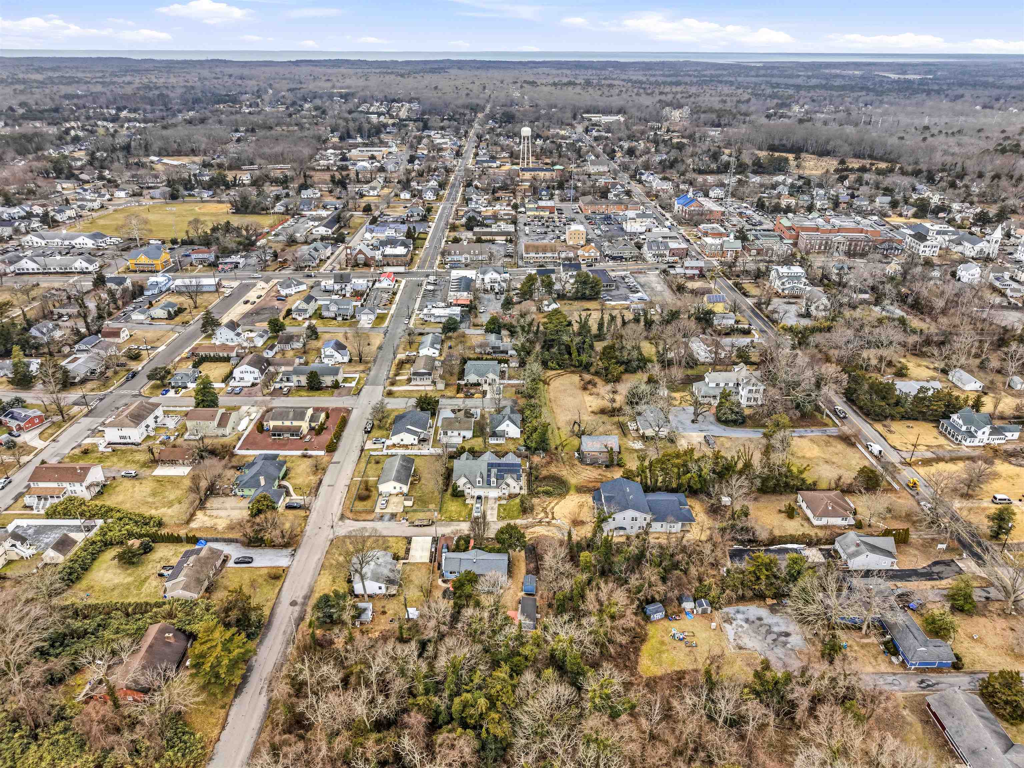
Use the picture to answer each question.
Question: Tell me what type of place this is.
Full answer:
This image shows a residential area.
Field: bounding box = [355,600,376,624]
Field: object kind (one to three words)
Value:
shed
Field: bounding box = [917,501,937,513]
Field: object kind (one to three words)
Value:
vehicle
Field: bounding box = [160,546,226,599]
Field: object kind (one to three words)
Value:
house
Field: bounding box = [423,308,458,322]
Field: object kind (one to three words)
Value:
building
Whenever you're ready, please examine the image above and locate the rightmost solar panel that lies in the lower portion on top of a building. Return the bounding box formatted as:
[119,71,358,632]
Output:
[490,462,519,477]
